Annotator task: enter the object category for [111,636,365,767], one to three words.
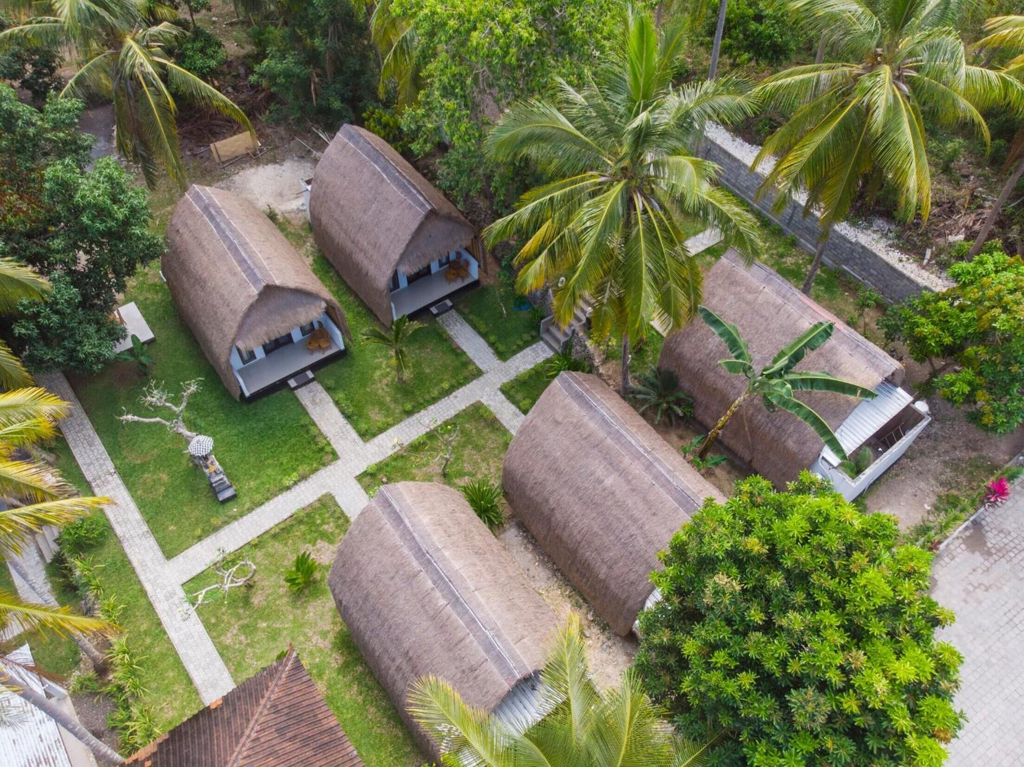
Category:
building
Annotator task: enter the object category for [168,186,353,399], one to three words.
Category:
shed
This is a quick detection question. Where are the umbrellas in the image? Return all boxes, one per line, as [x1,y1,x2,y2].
[179,433,208,458]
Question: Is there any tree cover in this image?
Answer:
Yes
